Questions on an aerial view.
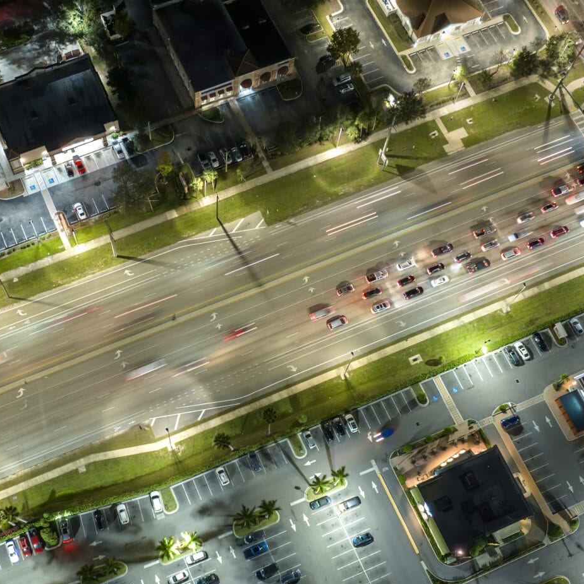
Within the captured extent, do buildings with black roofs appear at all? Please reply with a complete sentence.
Yes, there's a building with a black roof down there.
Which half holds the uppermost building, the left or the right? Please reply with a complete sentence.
The uppermost building is on the right side of the image.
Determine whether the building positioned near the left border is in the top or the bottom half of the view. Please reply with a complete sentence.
It is in the top half that the building positioned near the left border appears.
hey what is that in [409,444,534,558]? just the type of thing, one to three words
building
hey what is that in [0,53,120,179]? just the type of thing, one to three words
building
